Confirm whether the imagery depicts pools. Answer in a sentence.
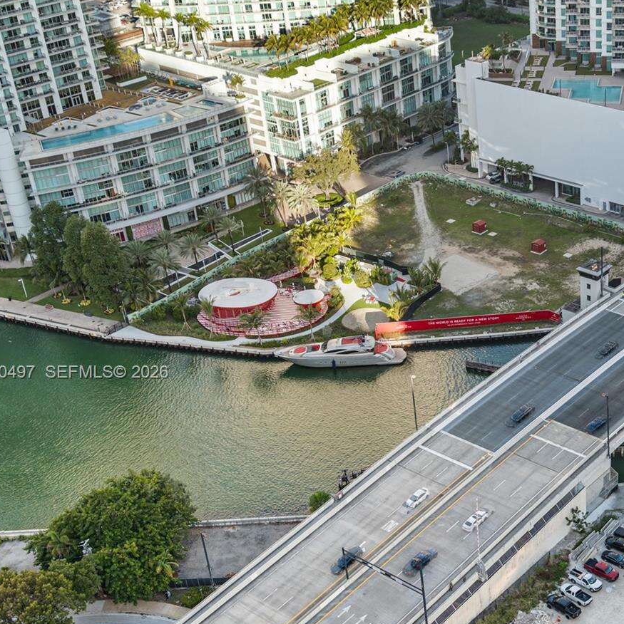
Yes, there is a pool in the image.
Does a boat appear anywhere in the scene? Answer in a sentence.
Yes, a boat appears in the view.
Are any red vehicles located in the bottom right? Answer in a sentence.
Yes, a red vehicle shows up in the bottom right.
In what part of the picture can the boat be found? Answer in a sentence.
The boat is located in the center region of the scene.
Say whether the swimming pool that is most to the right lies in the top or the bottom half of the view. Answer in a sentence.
It is in the top half that the swimming pool that is most to the right appears.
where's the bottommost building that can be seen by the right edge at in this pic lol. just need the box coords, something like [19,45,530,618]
[562,255,613,325]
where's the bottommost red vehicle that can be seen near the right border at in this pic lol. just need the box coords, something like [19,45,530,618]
[584,558,620,581]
